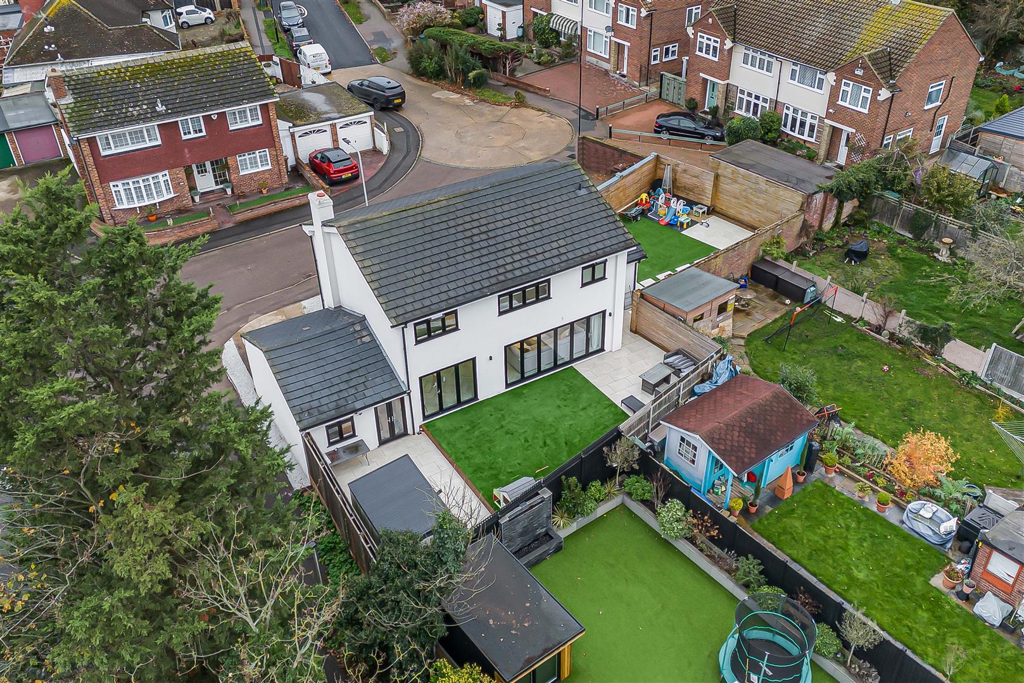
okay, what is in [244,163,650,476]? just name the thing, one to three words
house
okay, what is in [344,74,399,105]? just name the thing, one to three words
car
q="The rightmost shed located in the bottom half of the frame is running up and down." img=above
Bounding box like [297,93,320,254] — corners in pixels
[967,479,1024,608]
